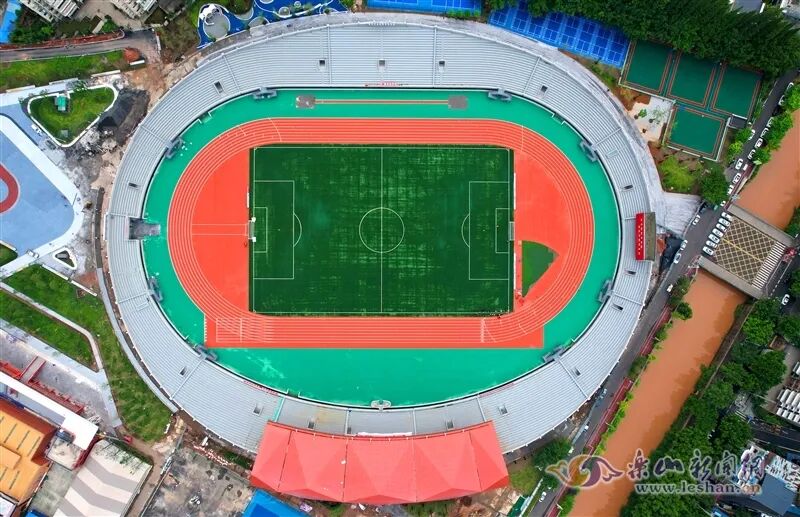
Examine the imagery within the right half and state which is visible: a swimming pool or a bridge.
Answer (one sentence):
You can see a bridge within the right half.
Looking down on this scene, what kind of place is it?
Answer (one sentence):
The picture captures a sports ground.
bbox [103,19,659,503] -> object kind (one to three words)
stadium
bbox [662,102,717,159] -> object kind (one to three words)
tennis court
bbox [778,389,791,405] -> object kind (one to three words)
vehicle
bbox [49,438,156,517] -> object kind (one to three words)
building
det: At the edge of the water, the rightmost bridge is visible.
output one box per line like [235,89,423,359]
[697,203,795,299]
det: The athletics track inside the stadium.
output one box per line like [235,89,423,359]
[167,118,594,349]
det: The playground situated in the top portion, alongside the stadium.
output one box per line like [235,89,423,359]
[197,0,349,49]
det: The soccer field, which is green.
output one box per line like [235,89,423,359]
[249,143,514,317]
